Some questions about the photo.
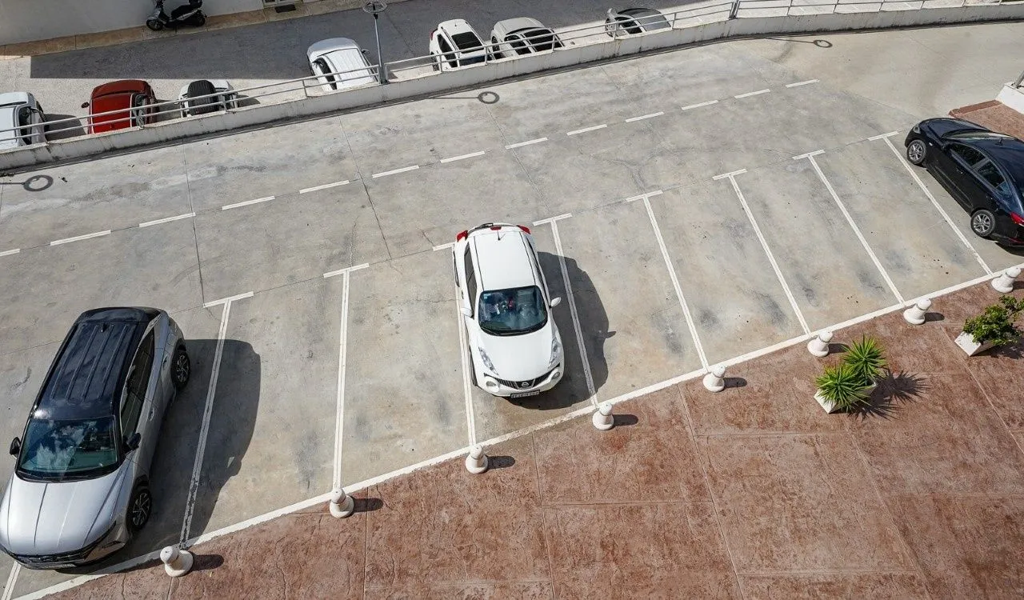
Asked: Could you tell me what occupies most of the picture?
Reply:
paved ground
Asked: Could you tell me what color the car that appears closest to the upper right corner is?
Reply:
black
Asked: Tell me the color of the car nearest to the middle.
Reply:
white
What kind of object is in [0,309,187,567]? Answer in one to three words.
car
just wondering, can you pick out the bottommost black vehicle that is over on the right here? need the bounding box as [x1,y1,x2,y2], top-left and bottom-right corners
[908,123,1024,250]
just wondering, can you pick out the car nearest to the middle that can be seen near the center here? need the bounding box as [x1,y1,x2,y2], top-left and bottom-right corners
[452,227,566,401]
